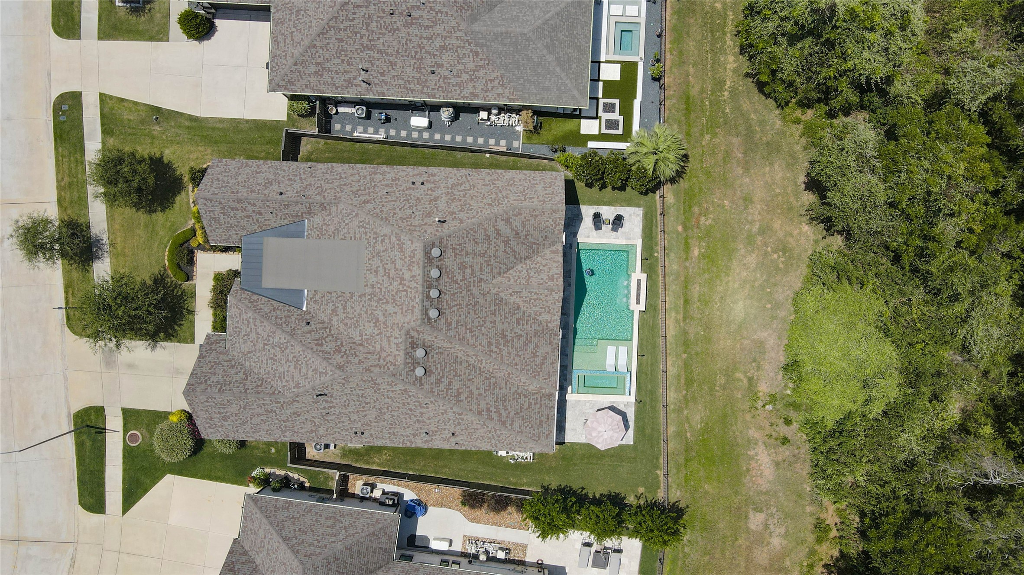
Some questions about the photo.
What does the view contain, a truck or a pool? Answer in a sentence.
There is a pool in the scene.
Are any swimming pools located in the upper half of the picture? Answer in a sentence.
Yes, there is a swimming pool in the upper half of the picture.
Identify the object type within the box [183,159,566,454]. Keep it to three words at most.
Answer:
house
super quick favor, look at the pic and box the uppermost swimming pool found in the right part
[602,0,647,61]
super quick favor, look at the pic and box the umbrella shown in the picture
[582,407,626,448]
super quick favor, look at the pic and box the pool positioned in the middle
[567,238,648,403]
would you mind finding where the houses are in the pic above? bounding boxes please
[220,486,570,575]
[178,0,594,114]
[183,159,566,454]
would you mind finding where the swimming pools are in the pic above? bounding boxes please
[602,0,647,61]
[567,238,648,403]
